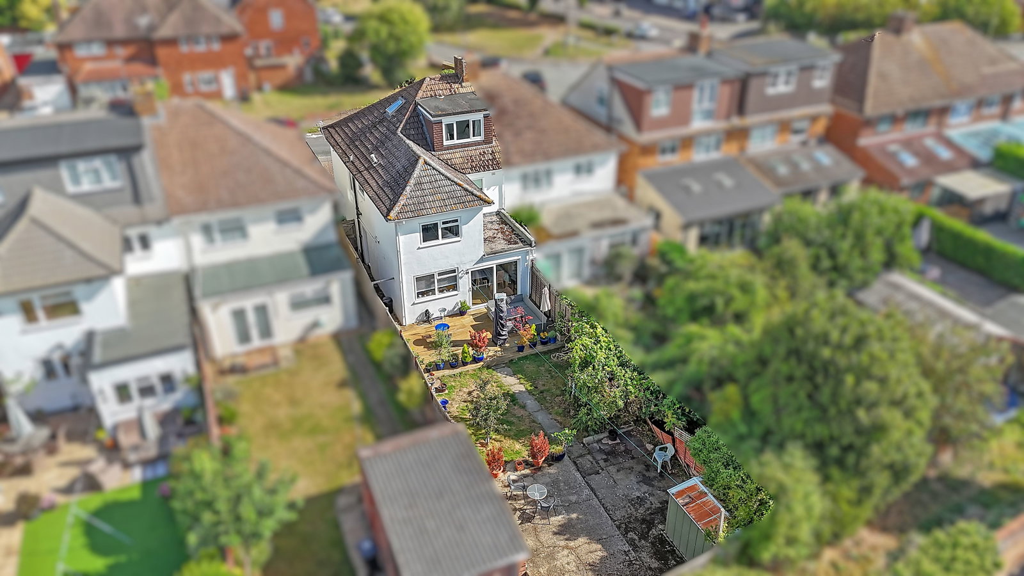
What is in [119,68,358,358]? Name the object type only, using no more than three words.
house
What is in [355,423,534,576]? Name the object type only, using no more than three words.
shed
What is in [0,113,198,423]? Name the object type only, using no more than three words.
house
